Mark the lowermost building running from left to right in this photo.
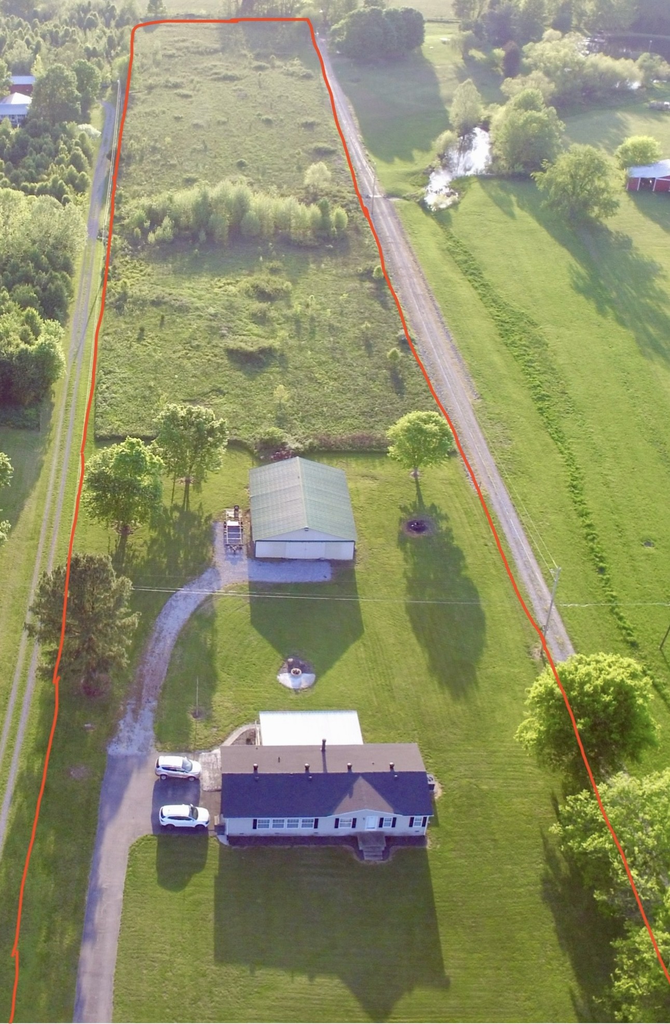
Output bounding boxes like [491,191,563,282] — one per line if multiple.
[222,743,433,835]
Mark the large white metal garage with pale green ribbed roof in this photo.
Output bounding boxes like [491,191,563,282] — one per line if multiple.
[253,457,361,559]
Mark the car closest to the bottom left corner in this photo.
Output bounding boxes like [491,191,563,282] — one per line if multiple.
[159,805,209,832]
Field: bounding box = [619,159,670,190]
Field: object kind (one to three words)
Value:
barn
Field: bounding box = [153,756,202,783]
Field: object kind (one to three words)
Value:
car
